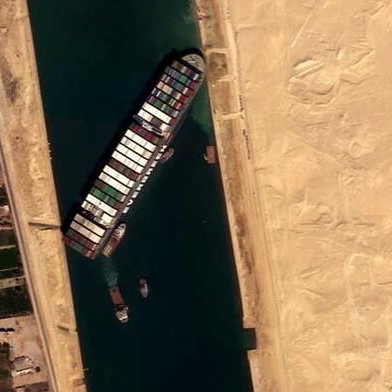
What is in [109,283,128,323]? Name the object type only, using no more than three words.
vessel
